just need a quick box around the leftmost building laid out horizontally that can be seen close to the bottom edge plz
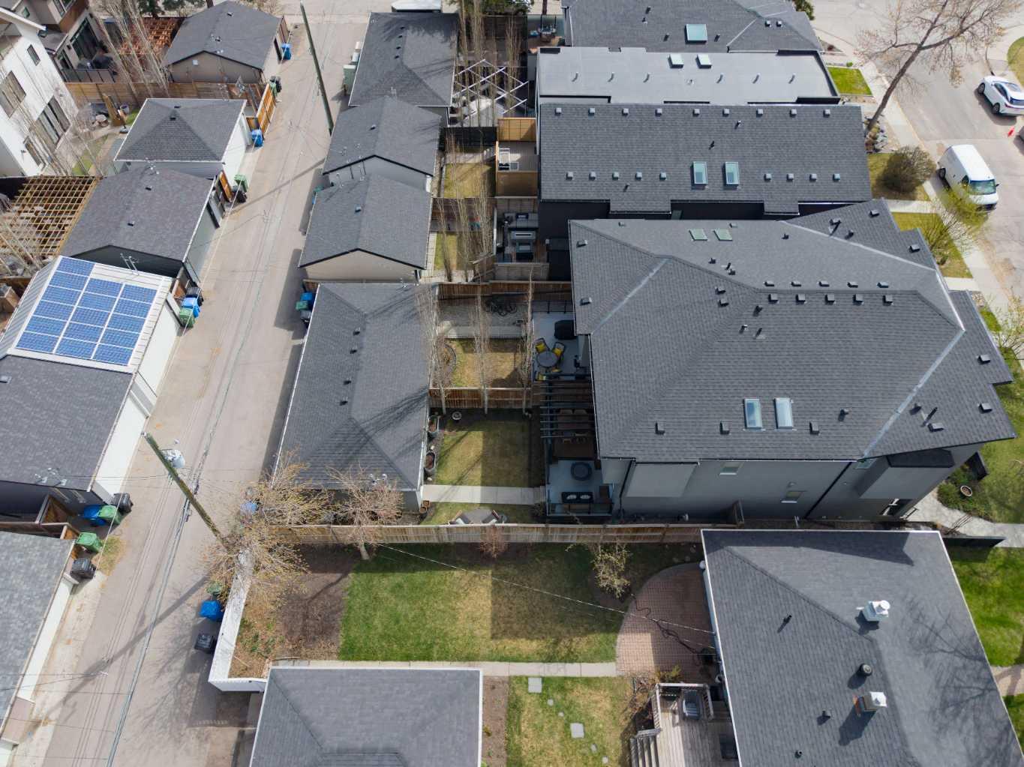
[246,666,486,767]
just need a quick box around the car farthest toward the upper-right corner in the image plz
[981,75,1024,114]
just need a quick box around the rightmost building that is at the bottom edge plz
[698,528,1024,767]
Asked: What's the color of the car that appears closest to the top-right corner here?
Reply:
white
